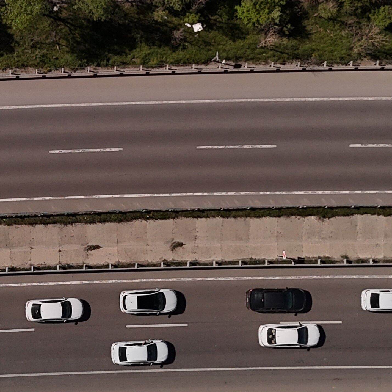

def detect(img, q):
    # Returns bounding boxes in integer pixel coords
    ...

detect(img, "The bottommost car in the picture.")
[110,339,168,367]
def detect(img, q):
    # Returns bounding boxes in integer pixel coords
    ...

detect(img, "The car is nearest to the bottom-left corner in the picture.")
[25,296,83,324]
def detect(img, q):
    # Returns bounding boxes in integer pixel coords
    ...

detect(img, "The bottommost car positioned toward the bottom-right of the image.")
[258,322,319,351]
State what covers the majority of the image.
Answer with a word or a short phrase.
paved ground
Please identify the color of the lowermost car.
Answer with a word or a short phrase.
white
